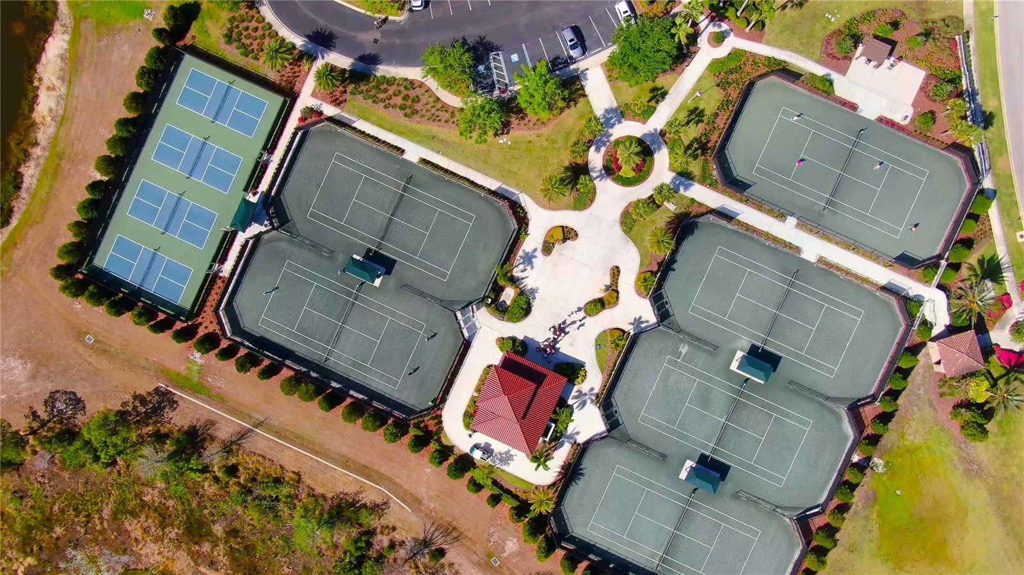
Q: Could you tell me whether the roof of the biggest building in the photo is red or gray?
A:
red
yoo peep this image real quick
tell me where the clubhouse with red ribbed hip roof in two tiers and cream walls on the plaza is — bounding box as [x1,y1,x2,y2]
[470,351,567,455]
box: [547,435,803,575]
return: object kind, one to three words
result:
tennis court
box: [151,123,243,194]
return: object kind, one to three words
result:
sports court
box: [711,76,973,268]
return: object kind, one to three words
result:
tennis court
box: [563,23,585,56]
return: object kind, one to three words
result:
car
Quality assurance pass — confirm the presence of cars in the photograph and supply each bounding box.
[410,0,424,11]
[615,0,638,23]
[563,23,585,56]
